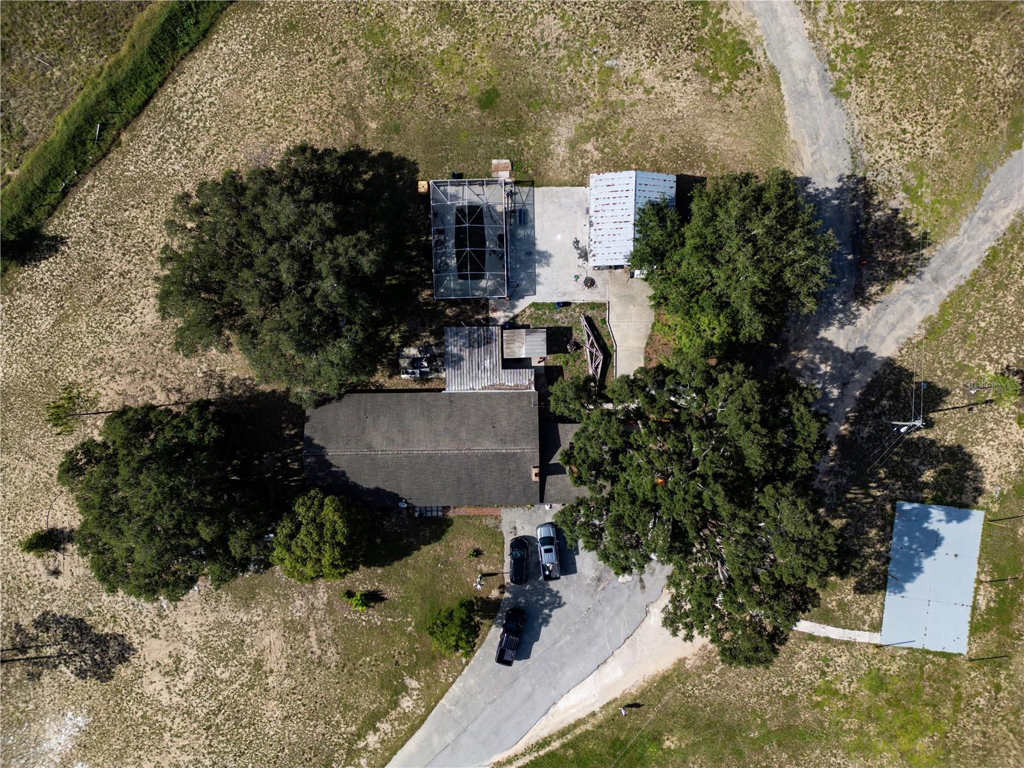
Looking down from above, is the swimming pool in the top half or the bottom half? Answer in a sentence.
It is in the top half that the swimming pool appears.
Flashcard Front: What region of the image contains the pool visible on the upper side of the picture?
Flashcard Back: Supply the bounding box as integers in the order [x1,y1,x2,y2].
[452,203,488,282]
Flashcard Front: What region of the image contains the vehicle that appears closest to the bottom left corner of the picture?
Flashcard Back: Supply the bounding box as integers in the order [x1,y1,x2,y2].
[495,608,524,671]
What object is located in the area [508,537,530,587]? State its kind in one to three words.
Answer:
car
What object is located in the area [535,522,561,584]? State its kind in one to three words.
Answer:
truck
